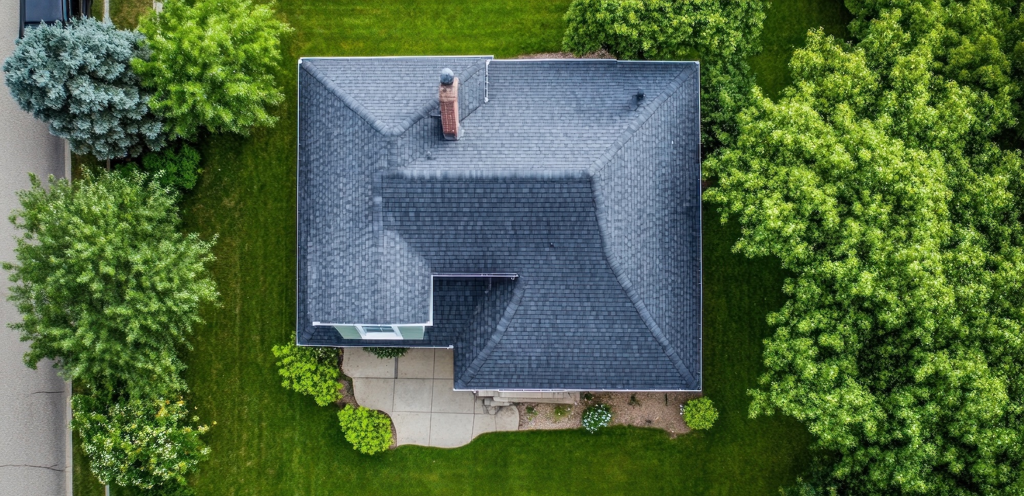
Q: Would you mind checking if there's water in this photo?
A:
No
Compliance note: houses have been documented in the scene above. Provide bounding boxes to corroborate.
[295,56,704,394]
